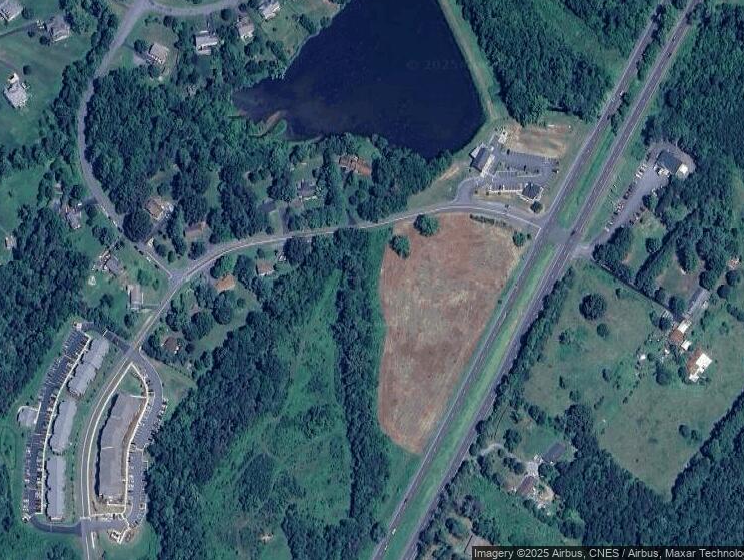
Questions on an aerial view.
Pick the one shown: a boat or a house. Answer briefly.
house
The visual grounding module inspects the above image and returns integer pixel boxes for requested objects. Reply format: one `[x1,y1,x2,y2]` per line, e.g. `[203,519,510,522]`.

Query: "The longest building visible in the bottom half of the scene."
[97,395,142,501]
